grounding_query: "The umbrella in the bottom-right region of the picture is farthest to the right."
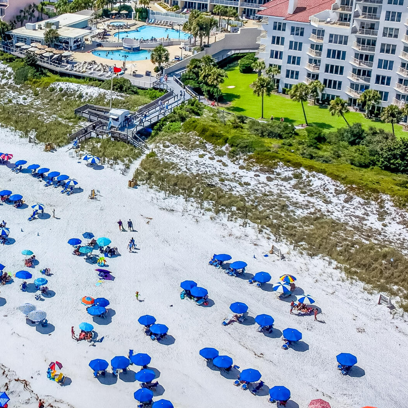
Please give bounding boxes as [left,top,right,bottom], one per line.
[336,355,357,370]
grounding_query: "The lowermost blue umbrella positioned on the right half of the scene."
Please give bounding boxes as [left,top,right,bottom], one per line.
[268,388,292,402]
